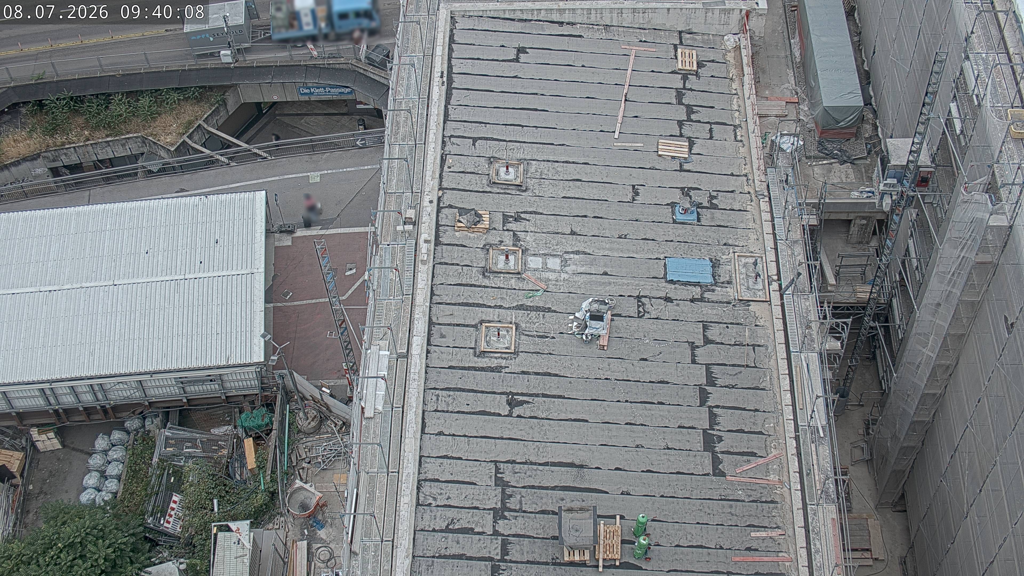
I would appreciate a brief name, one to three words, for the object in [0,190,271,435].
building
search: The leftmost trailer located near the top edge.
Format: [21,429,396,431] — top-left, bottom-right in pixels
[181,0,274,60]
